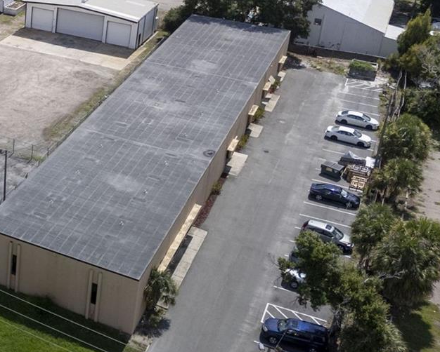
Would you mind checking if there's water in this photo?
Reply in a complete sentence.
No, water can't be seen anywhere here.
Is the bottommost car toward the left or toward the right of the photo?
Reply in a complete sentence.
It is on the right.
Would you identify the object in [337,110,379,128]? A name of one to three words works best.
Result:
car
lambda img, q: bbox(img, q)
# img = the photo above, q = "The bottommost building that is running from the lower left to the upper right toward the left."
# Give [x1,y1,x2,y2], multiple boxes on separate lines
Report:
[0,14,291,333]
